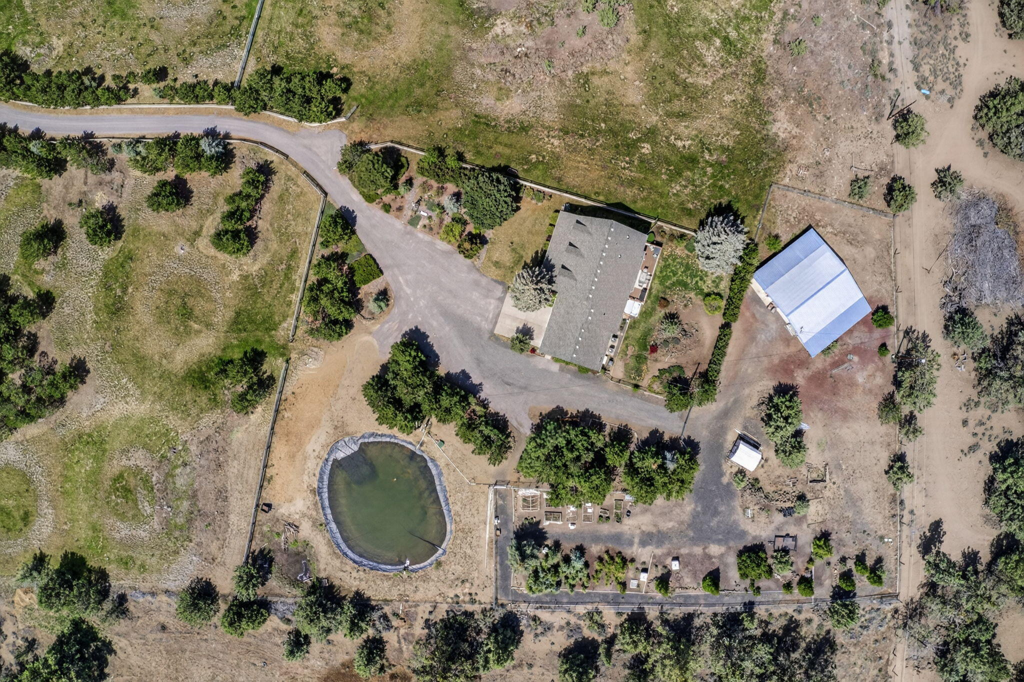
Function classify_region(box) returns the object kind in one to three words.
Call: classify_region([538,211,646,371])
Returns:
house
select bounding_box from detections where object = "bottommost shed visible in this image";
[724,435,761,469]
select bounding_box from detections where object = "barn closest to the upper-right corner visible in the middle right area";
[749,229,872,355]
